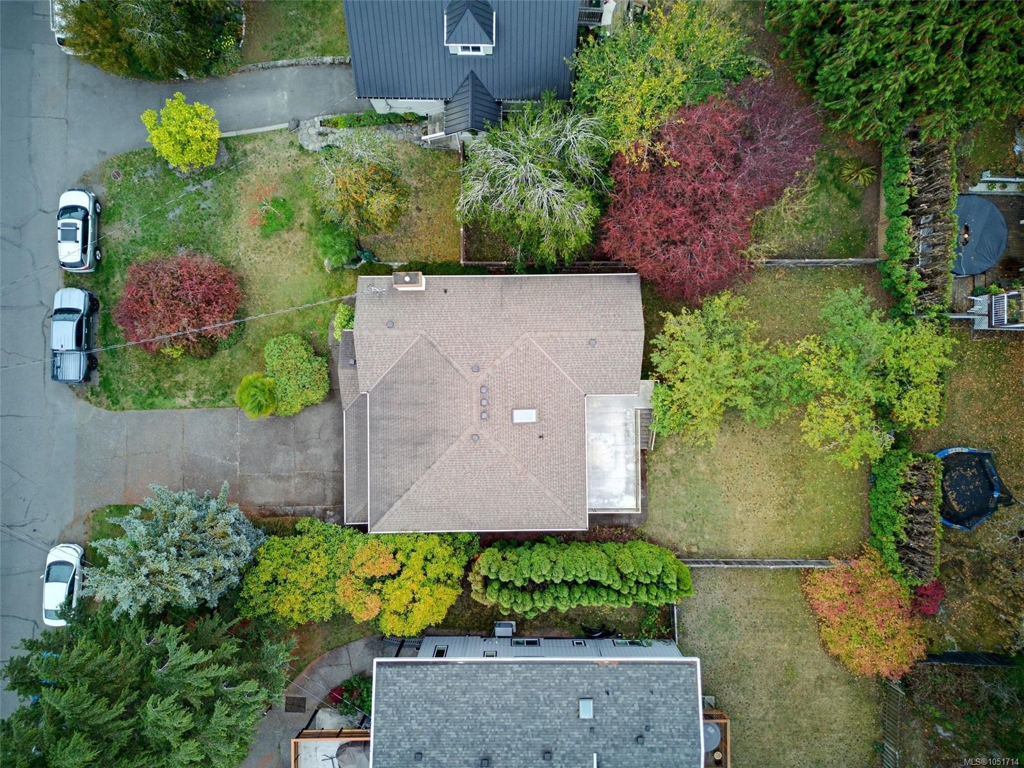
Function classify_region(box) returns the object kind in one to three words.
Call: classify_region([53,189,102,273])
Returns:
car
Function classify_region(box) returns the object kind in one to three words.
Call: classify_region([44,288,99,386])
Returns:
truck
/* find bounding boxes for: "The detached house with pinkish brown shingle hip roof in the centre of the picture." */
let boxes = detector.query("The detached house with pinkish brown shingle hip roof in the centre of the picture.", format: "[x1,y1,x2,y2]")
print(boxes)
[339,272,663,535]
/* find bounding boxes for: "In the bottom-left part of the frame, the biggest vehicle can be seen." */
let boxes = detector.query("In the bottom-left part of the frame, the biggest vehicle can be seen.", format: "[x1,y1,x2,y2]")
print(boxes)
[42,543,90,629]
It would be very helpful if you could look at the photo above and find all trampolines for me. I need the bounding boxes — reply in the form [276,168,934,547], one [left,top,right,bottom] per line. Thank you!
[927,447,1024,531]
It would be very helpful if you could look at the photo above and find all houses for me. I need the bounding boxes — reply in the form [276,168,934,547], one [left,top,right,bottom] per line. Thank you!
[344,0,576,162]
[339,272,663,535]
[367,635,707,768]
